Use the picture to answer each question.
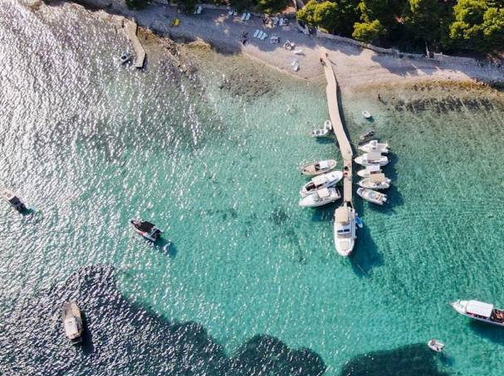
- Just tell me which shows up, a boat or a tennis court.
boat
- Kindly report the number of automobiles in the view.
none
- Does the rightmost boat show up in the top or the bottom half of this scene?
bottom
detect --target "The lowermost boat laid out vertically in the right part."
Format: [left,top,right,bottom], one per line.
[333,196,357,256]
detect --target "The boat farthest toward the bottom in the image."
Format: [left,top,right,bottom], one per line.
[428,338,446,352]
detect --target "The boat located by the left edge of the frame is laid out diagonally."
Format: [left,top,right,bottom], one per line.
[0,186,33,214]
